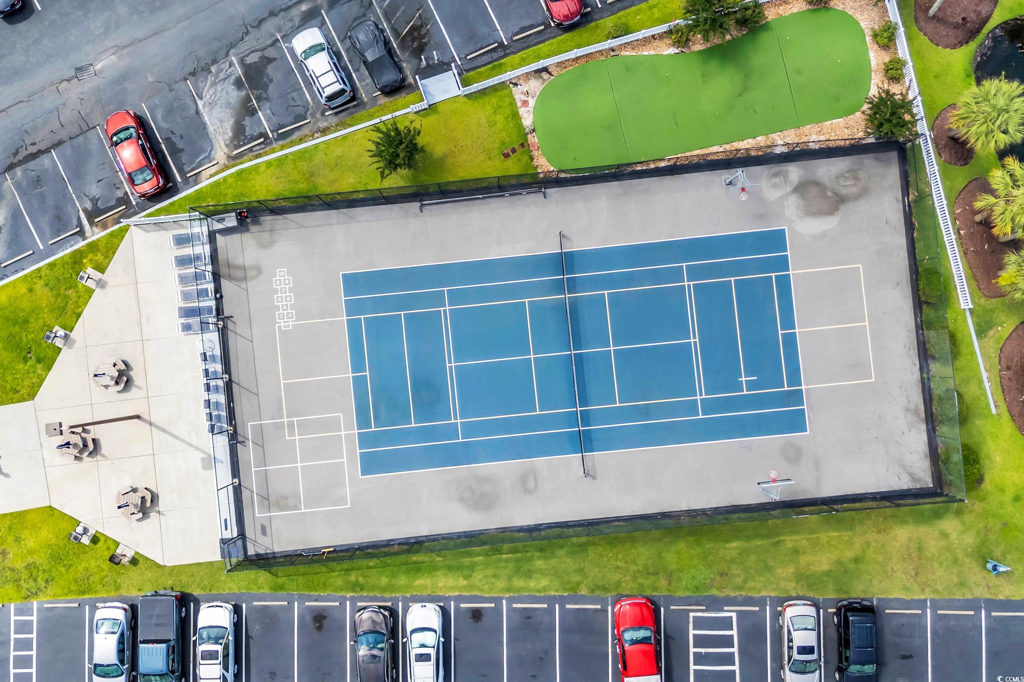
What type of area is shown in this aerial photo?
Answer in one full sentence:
The area seen from above is a sports ground.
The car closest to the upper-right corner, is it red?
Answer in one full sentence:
Yes, red is the color of the car closest to the upper-right corner.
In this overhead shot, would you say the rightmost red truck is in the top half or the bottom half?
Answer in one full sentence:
Seen from above, the rightmost red truck lies in the bottom half of the view.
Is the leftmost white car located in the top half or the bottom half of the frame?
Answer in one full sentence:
The leftmost white car sits in the bottom half of the picture.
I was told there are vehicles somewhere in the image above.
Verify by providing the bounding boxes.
[0,0,17,19]
[105,108,169,202]
[193,602,238,682]
[294,27,352,111]
[614,596,661,682]
[87,602,135,682]
[780,599,827,682]
[134,585,186,682]
[352,604,393,682]
[404,604,444,682]
[541,0,581,29]
[831,597,883,682]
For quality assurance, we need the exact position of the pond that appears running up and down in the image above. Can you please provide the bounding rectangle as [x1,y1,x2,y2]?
[972,13,1024,169]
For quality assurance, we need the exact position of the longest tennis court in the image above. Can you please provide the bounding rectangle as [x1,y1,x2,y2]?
[207,140,943,566]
